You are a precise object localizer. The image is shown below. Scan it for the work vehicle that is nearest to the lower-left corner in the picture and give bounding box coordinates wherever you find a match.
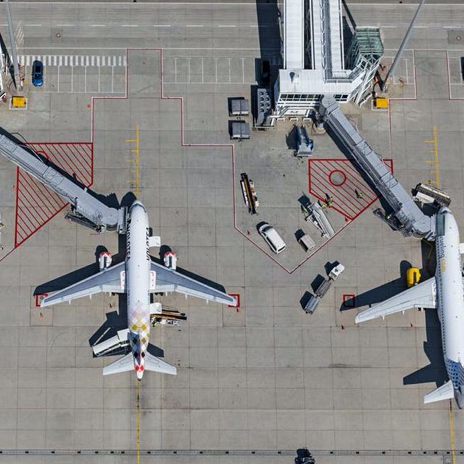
[150,310,188,324]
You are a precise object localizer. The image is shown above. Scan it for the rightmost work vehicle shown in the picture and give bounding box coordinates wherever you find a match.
[416,183,451,208]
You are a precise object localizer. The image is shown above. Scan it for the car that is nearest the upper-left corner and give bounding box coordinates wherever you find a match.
[32,62,44,86]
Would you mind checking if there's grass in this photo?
No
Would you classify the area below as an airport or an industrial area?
airport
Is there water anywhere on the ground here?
No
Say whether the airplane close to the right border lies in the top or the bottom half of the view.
bottom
